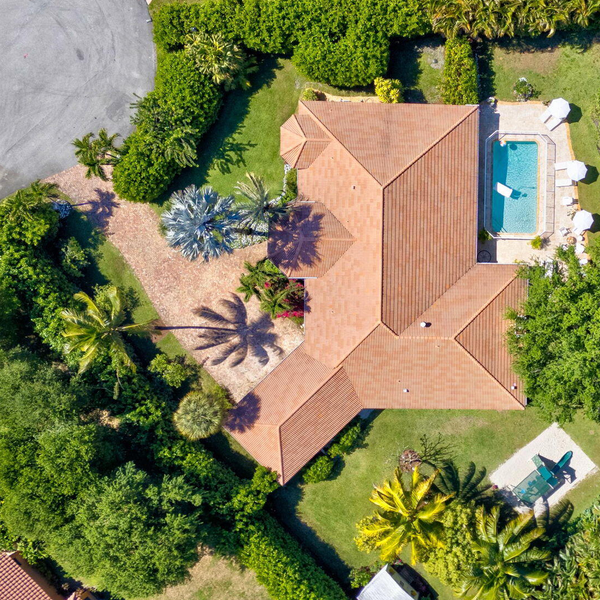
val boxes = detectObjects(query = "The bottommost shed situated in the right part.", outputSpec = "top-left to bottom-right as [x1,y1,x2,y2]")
[361,561,422,600]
